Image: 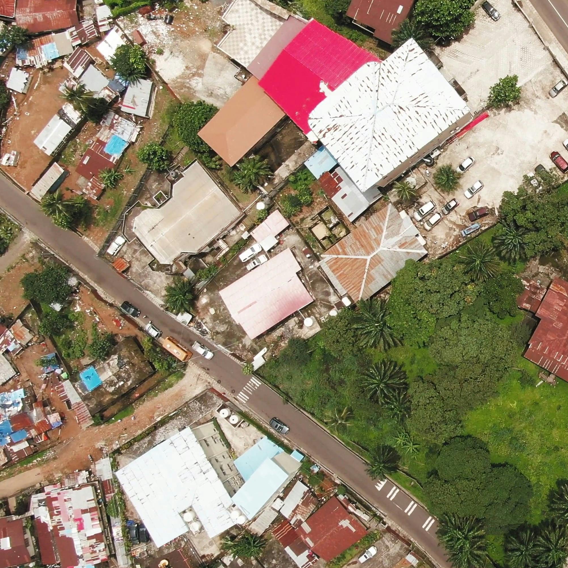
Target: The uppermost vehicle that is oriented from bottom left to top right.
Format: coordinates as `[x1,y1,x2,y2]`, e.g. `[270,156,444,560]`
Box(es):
[548,77,568,99]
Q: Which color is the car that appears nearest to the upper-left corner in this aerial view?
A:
white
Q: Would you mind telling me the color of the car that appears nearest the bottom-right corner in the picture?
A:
white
